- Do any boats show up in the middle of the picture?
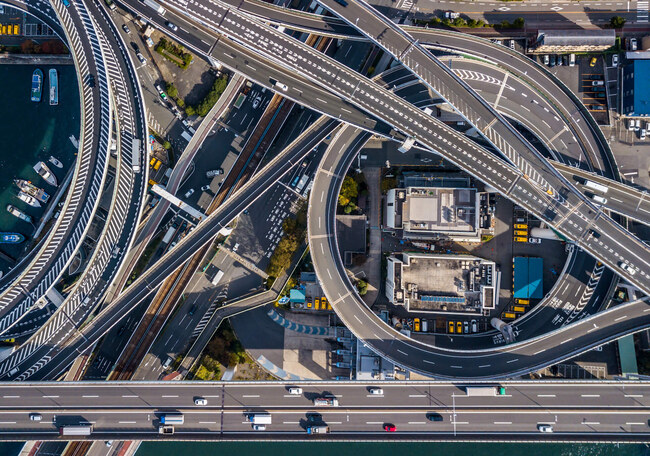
No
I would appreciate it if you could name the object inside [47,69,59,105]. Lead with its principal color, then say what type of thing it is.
blue boat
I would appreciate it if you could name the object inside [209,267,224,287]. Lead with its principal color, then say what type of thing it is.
white vehicle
